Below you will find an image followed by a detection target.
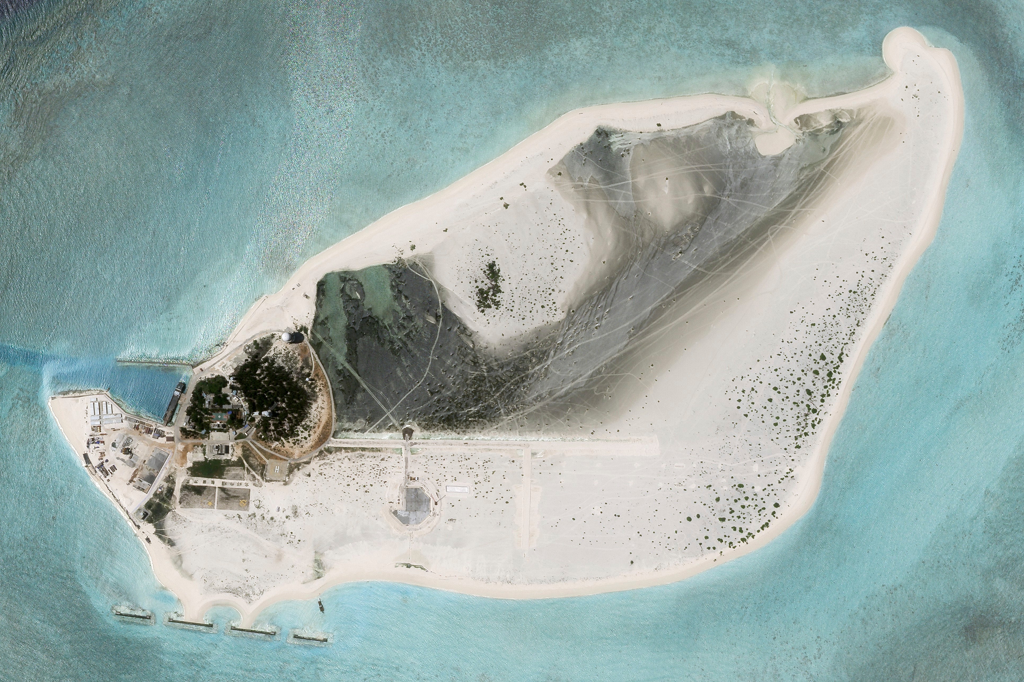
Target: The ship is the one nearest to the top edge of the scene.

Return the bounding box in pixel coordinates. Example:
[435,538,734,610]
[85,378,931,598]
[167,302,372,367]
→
[162,382,184,427]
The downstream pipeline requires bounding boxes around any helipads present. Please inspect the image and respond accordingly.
[263,459,288,482]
